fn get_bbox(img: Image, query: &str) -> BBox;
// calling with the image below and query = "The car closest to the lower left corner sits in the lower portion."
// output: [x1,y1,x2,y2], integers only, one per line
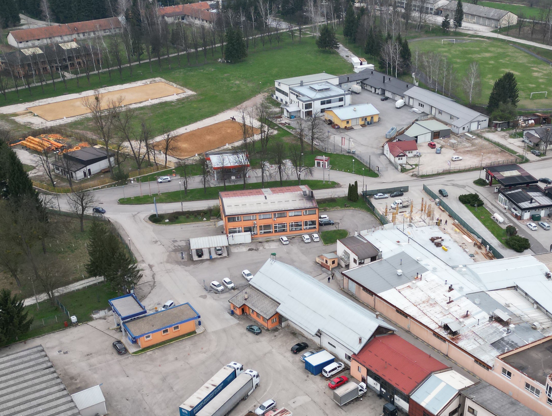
[113,342,127,356]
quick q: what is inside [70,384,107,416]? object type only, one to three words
shed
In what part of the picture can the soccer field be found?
top right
